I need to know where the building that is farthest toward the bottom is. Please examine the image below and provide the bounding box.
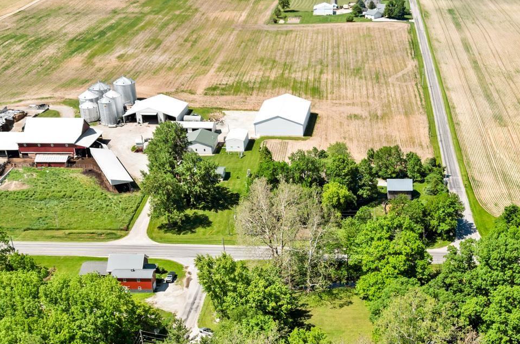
[110,268,160,292]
